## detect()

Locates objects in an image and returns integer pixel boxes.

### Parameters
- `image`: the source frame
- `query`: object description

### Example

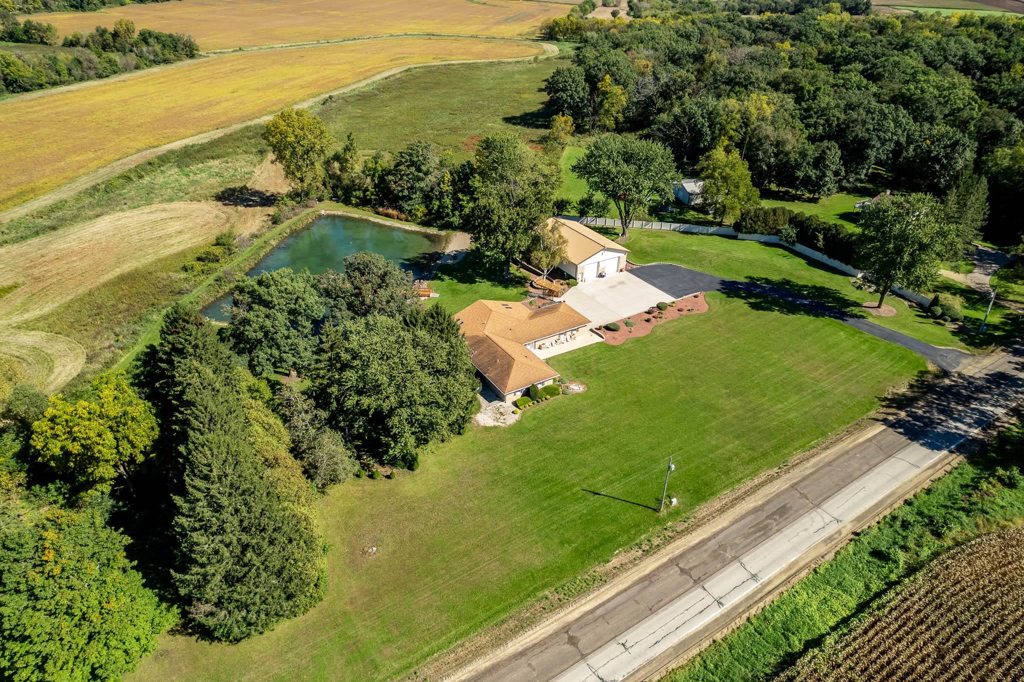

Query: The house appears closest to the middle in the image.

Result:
[450,300,593,404]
